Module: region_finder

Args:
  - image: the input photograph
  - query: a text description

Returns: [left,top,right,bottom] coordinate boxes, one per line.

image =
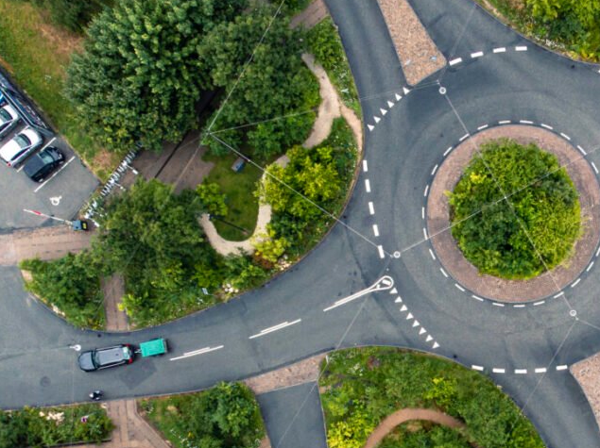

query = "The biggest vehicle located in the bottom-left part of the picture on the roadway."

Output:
[80,344,135,371]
